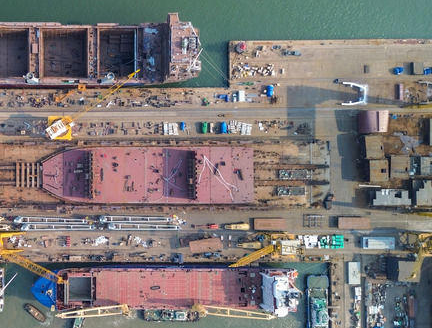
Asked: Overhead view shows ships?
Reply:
Yes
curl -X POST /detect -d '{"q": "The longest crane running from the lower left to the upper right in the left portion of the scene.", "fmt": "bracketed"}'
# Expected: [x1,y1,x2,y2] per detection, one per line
[43,69,141,141]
